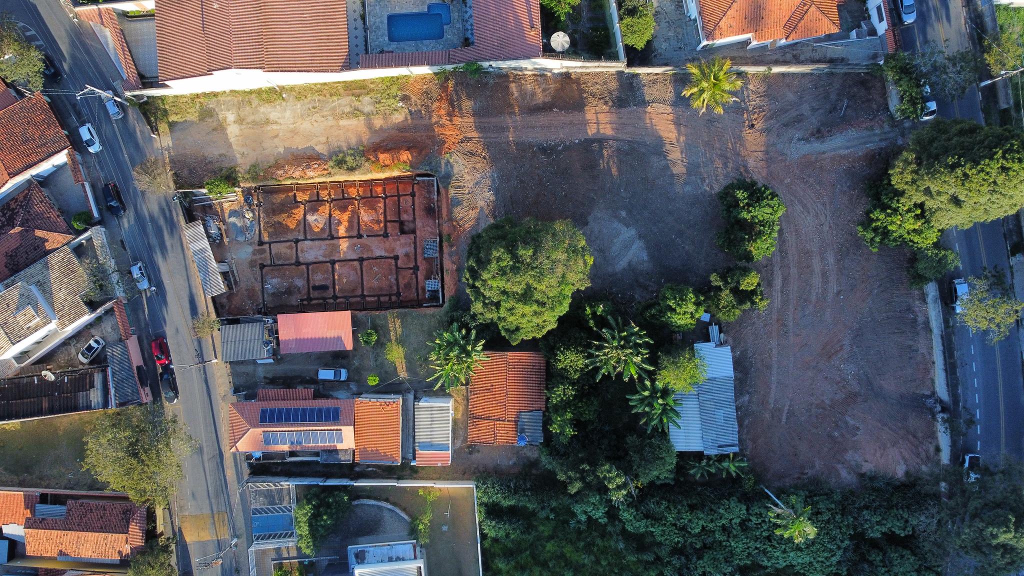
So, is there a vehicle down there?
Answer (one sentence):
Yes, the frame does contain a vehicle.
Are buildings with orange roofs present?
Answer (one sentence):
Yes, there's a building with an orange roof here.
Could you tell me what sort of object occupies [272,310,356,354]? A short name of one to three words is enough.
shed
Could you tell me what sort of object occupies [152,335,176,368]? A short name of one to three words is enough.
car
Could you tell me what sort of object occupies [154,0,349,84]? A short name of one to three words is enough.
house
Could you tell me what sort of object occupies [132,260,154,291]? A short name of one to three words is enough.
car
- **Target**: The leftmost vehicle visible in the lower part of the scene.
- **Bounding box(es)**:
[81,334,108,365]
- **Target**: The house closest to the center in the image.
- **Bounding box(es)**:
[468,351,545,445]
